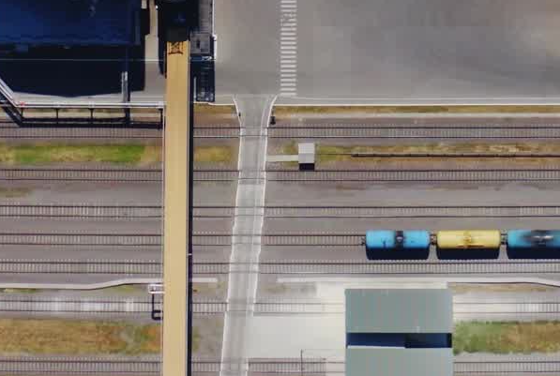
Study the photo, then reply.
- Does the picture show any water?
No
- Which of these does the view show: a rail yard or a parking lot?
rail yard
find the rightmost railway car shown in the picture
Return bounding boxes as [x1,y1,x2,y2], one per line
[503,231,560,249]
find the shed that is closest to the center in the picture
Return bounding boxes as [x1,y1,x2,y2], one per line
[299,143,315,164]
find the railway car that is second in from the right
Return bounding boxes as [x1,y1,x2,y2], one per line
[432,231,504,249]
